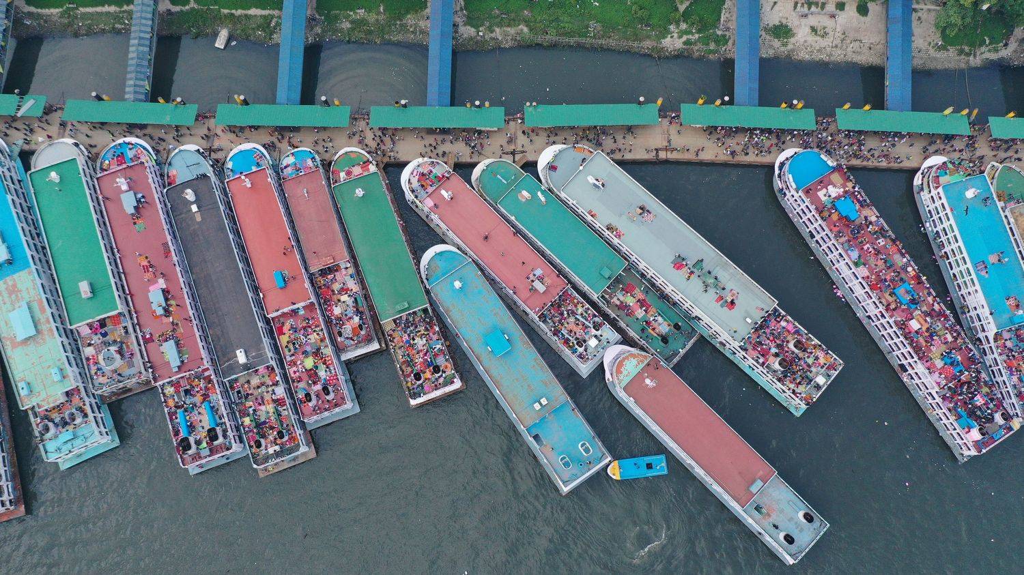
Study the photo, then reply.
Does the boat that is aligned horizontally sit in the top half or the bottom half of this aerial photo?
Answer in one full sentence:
Seen from above, the boat that is aligned horizontally lies in the bottom half of the view.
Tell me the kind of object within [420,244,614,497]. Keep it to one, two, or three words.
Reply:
ship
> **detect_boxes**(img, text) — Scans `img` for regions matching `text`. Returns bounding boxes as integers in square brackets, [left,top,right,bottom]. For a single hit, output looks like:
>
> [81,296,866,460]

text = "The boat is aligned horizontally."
[607,456,668,478]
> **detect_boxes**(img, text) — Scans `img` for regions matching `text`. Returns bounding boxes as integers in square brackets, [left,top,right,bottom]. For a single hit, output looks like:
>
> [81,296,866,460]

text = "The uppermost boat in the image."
[214,28,228,49]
